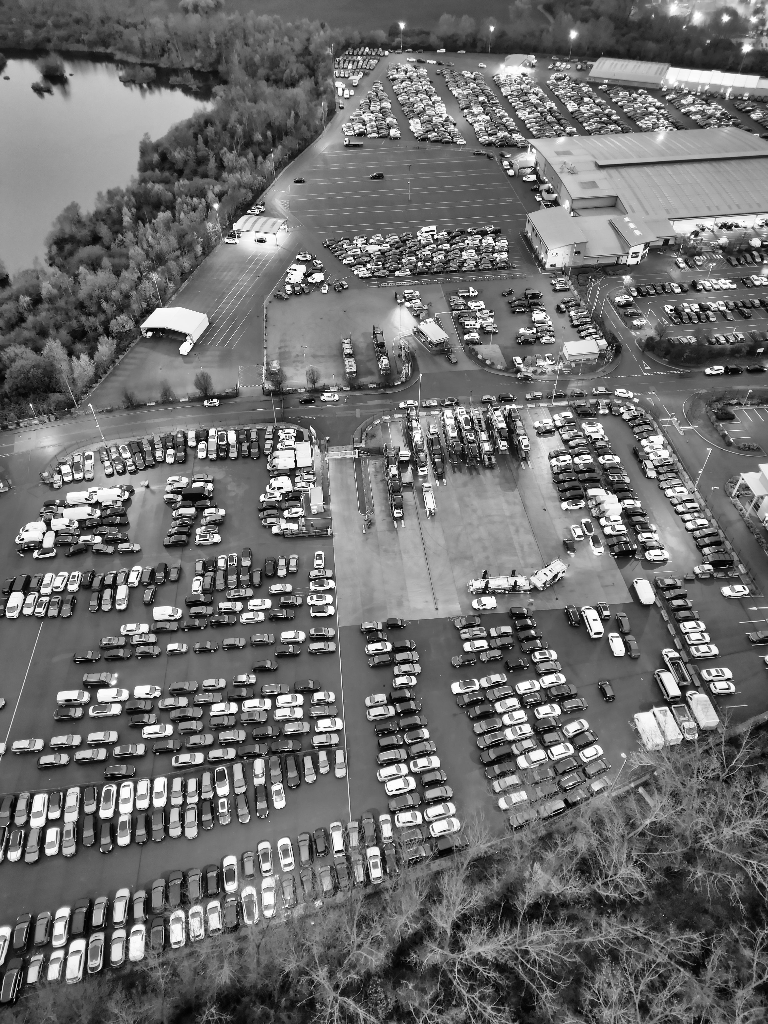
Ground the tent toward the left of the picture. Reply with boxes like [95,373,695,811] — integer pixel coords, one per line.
[141,304,209,343]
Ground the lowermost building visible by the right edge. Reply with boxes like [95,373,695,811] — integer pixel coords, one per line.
[732,448,768,517]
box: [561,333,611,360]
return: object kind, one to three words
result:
shed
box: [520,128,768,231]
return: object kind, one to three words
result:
building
